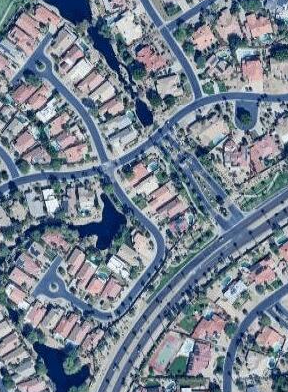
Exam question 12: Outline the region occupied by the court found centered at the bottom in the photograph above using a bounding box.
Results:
[151,331,183,373]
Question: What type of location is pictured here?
residential area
